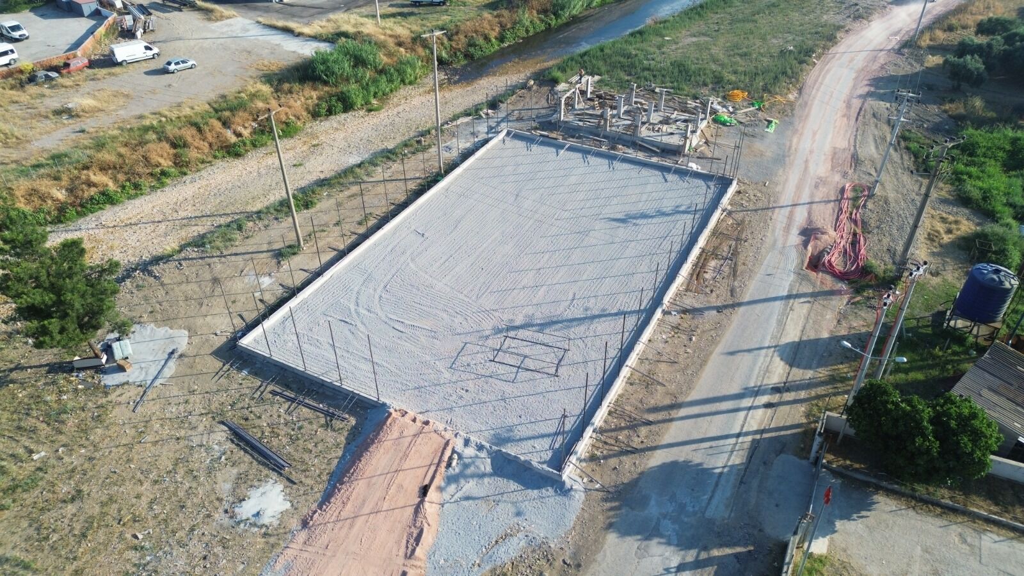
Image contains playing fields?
Yes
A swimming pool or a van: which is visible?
van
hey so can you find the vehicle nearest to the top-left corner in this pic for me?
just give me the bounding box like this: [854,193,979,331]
[0,12,34,40]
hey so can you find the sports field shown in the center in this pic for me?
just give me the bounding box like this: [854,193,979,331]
[244,133,733,470]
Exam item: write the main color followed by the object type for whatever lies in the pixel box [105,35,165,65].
white van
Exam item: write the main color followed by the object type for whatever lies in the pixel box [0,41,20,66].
white vehicle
